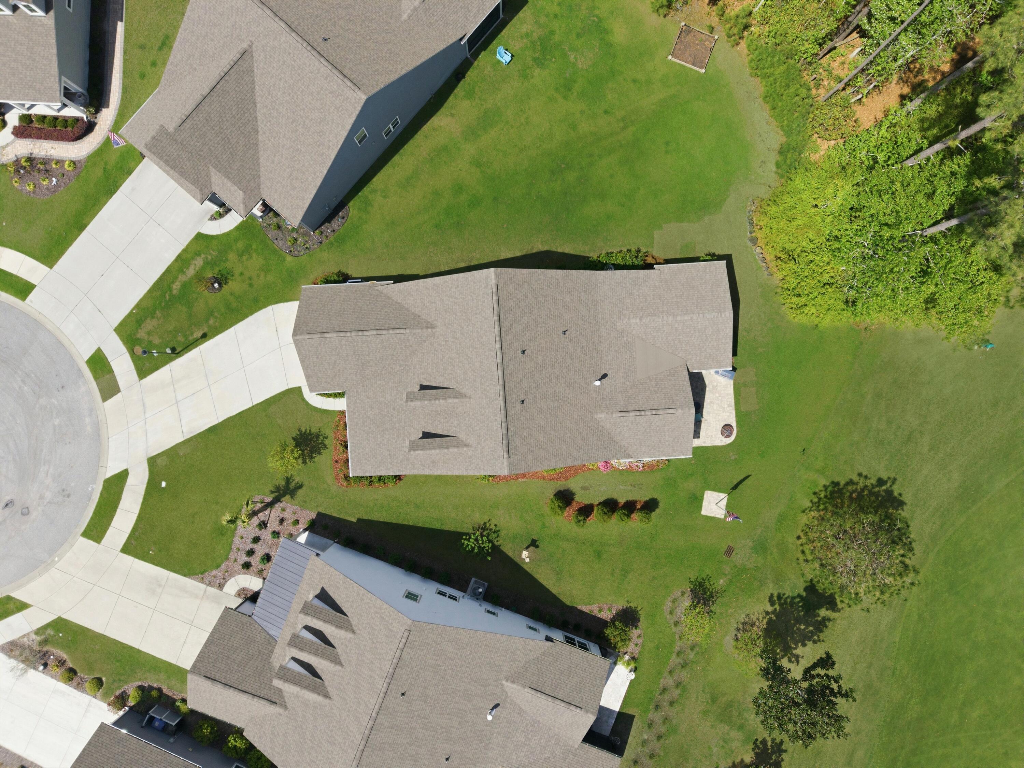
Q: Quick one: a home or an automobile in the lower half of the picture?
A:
home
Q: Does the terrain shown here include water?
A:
No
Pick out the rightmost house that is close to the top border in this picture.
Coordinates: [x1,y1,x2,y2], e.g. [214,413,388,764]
[117,0,517,237]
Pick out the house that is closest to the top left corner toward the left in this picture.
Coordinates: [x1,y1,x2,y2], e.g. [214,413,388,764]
[0,0,91,116]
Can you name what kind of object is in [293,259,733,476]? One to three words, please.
house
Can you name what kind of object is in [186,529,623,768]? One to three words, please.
house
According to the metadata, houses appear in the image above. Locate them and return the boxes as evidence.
[0,0,91,116]
[293,259,733,476]
[186,529,623,768]
[117,0,517,237]
[72,708,254,768]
